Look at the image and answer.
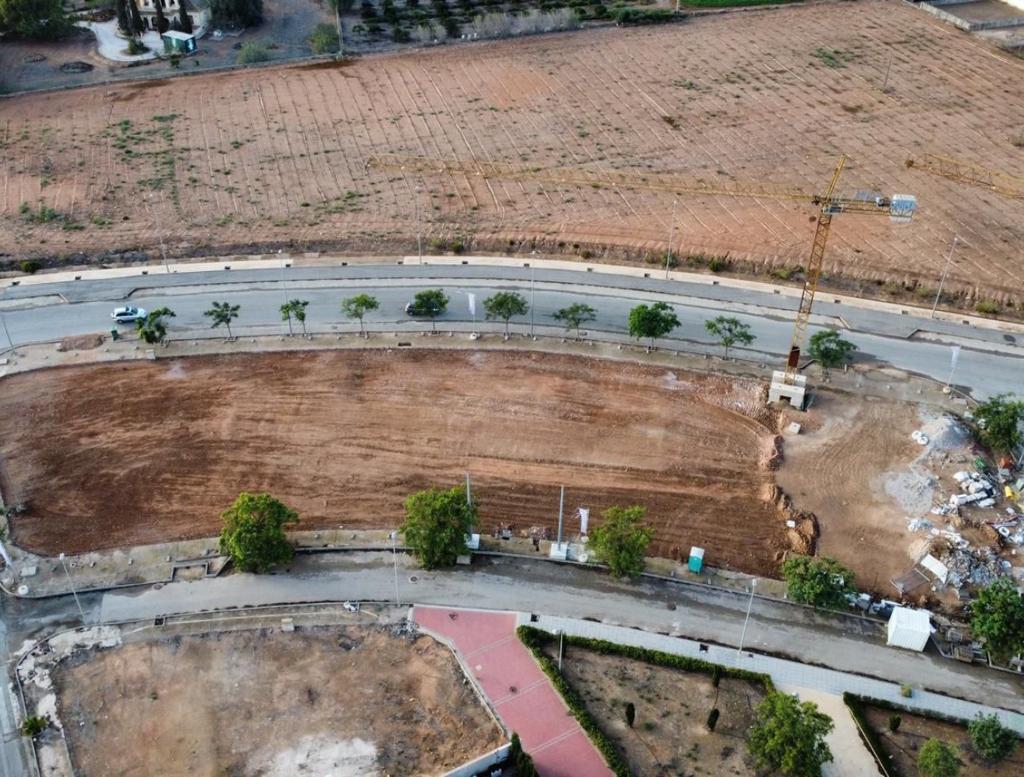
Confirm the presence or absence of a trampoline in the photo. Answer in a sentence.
No, the frame has no trampoline in it.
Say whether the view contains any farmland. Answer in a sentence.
Yes, the picture does contain farmland.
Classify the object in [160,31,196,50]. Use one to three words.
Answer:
shed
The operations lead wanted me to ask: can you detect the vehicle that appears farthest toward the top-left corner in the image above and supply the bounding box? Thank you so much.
[105,305,148,323]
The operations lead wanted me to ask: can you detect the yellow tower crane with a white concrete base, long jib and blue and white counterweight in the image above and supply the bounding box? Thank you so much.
[367,154,911,406]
